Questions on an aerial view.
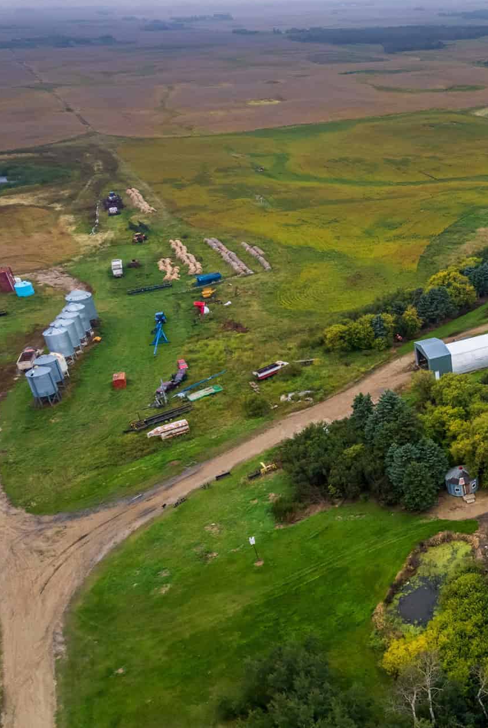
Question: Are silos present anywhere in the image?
Yes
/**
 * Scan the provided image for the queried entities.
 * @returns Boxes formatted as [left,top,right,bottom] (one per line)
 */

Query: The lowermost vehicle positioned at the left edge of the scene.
[10,351,41,370]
